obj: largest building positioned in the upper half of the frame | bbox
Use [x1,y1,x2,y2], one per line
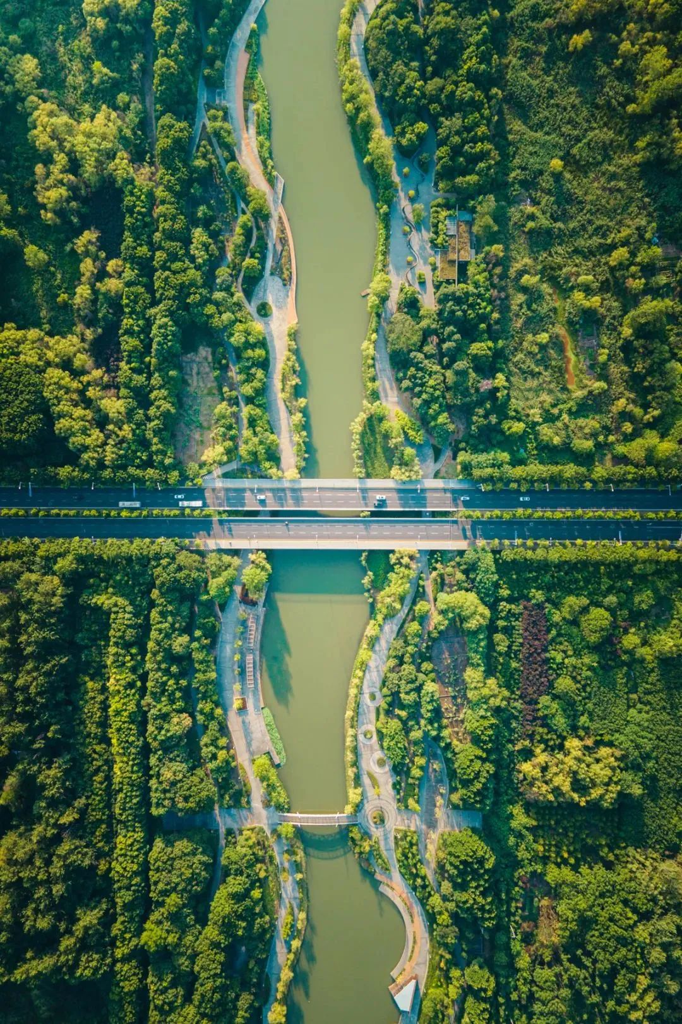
[435,206,476,283]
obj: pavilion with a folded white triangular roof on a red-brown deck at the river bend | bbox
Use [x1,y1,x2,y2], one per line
[388,974,418,1014]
